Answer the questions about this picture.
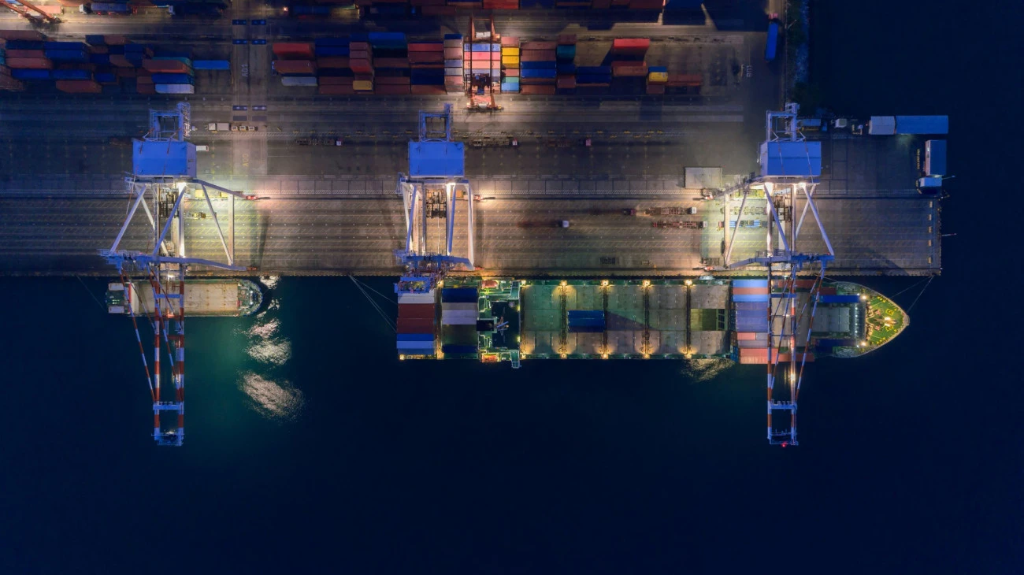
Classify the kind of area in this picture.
port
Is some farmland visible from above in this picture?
No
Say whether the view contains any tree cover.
No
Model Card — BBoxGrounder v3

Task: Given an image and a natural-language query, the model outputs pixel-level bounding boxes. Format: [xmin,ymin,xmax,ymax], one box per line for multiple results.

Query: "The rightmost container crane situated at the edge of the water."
[703,97,837,446]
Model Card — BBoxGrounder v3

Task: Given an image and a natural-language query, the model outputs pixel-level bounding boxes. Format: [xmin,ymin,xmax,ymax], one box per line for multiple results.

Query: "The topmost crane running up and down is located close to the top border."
[461,12,504,113]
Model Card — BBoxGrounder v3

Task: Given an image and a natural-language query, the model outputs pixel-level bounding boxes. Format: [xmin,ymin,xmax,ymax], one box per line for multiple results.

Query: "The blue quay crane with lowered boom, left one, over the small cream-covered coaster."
[102,97,258,445]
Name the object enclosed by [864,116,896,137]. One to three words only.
shed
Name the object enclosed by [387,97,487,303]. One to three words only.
container crane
